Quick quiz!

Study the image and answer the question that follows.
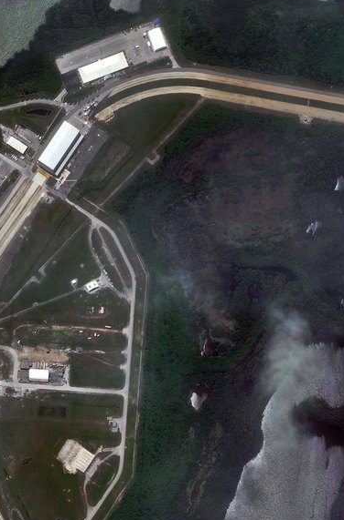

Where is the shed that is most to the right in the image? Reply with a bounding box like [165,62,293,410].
[147,27,167,51]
